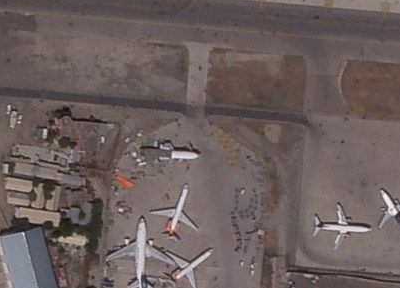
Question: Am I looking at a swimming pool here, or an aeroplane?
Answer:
aeroplane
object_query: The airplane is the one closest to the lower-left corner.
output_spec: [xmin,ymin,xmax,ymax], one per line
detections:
[107,216,176,288]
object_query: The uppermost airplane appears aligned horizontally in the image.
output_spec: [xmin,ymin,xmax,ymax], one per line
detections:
[140,143,200,159]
